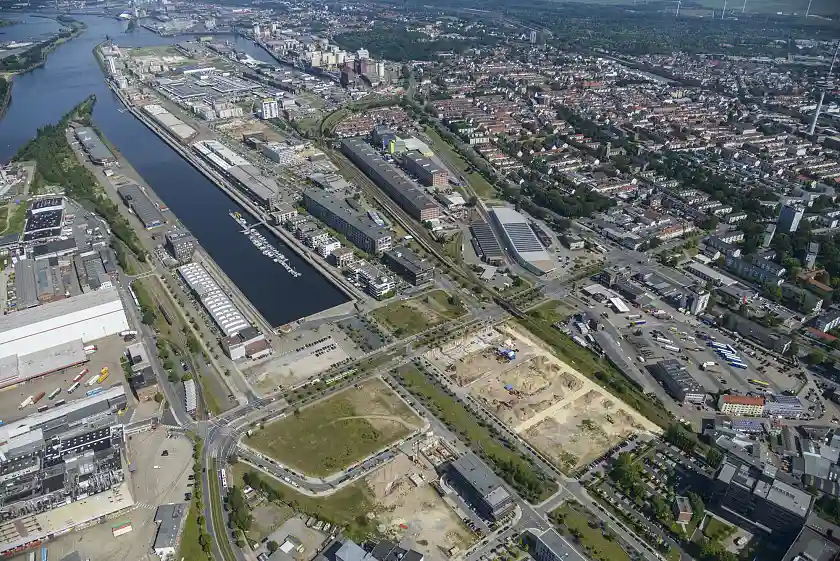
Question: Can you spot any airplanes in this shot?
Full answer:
No, the frame has no airplane in it.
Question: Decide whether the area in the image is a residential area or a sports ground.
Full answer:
The area seen from above is a residential area.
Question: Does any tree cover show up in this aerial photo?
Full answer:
Yes, there is tree cover in the image.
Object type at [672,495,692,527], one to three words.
house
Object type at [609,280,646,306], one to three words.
building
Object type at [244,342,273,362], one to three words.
building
